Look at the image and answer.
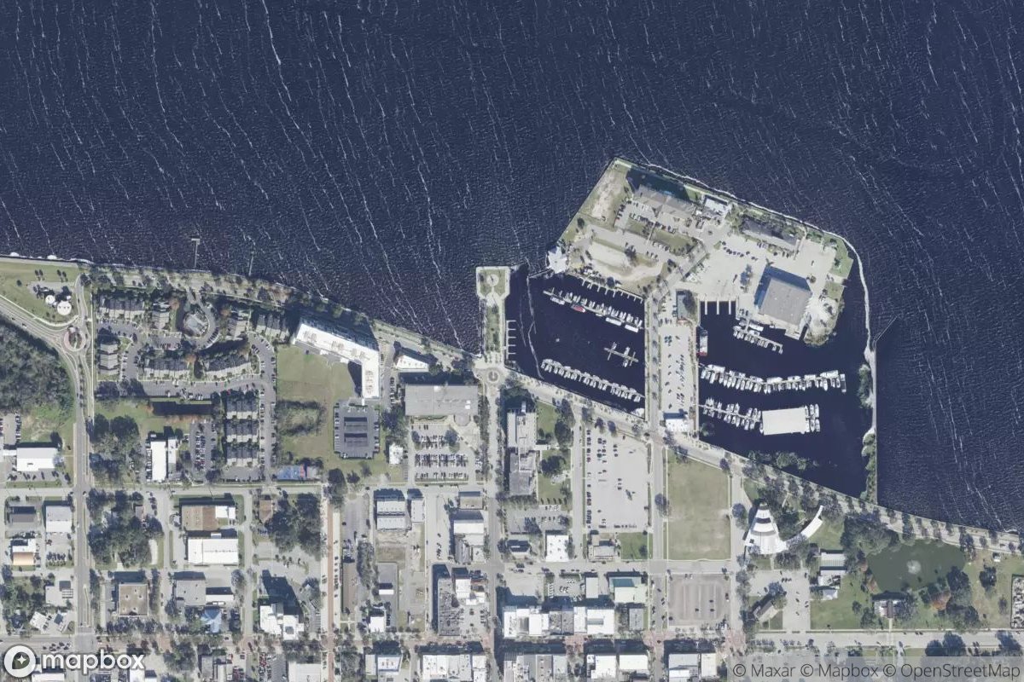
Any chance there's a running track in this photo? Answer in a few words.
No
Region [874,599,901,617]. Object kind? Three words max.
house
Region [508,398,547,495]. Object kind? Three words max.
building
